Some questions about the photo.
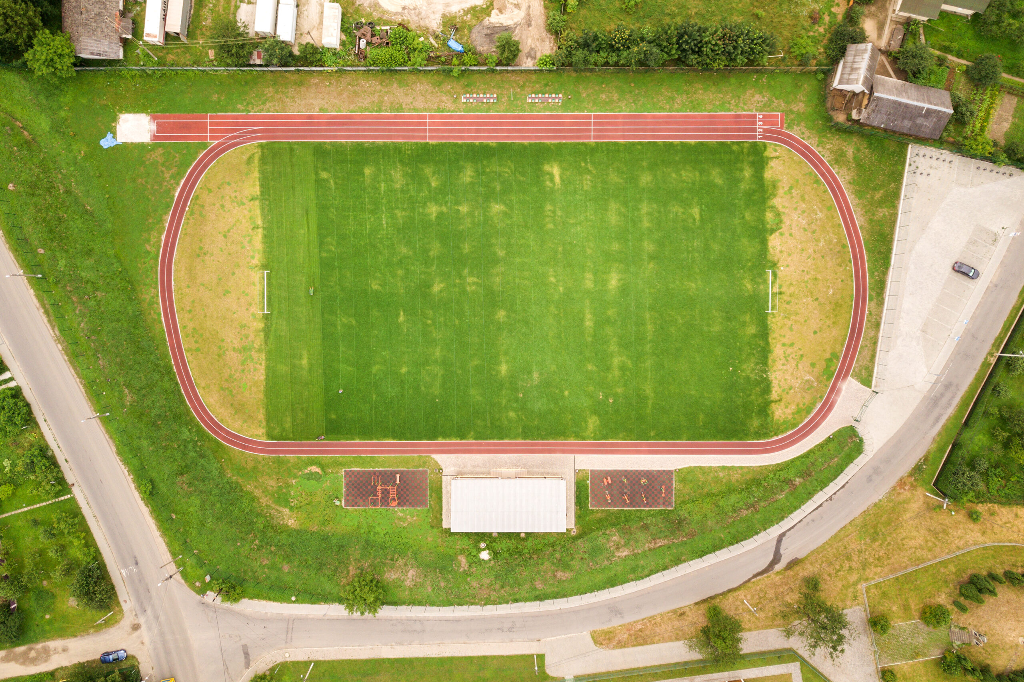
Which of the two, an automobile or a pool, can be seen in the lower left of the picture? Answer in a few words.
automobile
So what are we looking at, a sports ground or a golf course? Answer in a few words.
sports ground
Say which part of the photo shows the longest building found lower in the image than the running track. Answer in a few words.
bottom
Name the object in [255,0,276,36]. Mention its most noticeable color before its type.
white trailer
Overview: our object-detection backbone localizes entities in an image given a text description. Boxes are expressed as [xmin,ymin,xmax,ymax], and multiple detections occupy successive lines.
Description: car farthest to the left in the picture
[100,647,128,663]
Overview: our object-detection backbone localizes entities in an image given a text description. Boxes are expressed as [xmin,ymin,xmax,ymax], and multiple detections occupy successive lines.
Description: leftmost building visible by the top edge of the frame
[67,0,137,61]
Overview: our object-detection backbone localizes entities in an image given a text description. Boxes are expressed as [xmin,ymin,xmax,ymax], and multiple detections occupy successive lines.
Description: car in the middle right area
[953,261,981,280]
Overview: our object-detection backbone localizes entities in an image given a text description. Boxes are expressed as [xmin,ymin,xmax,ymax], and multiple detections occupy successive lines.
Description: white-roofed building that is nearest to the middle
[451,471,566,532]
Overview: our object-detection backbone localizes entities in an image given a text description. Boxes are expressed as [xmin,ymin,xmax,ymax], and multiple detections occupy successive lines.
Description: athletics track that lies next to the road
[150,112,869,457]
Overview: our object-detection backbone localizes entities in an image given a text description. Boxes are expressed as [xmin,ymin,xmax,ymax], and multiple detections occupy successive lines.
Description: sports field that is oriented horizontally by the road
[172,141,854,442]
